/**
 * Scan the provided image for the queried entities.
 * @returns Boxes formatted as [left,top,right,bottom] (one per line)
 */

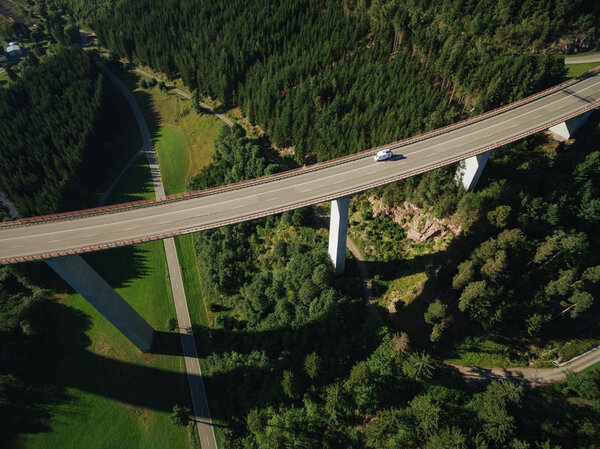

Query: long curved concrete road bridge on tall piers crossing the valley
[0,65,600,352]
